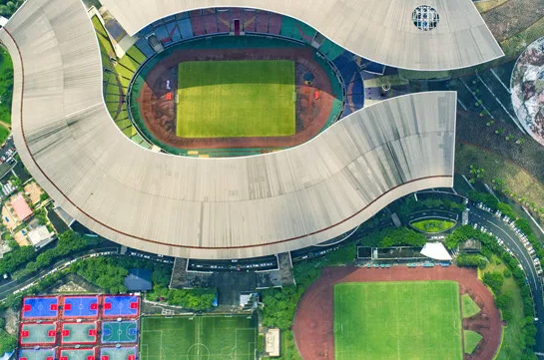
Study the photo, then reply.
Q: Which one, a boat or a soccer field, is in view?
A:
soccer field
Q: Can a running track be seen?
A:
Yes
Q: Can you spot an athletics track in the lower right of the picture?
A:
Yes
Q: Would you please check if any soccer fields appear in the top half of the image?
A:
Yes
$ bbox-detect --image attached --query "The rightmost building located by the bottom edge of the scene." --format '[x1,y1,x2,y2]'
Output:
[265,326,280,356]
